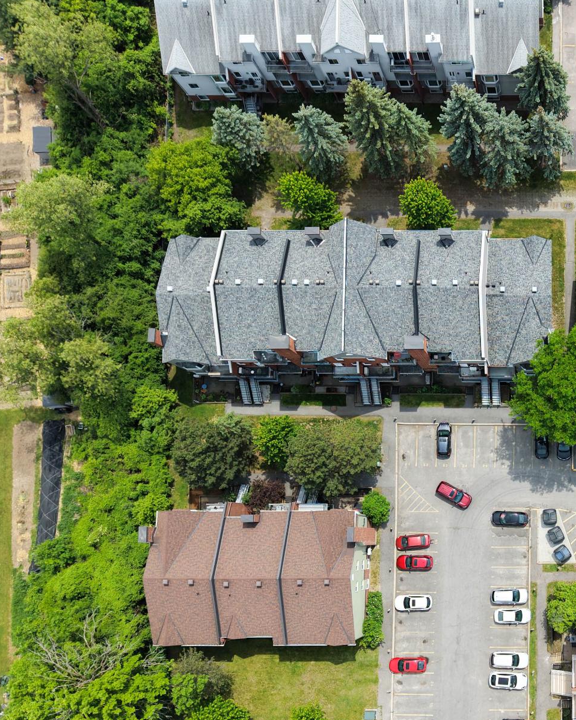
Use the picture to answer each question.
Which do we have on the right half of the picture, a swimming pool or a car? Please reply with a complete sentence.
The feature located on the right half of the picture is a car.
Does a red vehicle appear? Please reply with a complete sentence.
Yes, a red vehicle appears in the view.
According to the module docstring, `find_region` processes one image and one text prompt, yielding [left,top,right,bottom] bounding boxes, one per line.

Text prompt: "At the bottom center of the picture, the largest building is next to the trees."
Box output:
[139,483,379,648]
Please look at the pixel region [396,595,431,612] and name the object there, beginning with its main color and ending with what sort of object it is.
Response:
white car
